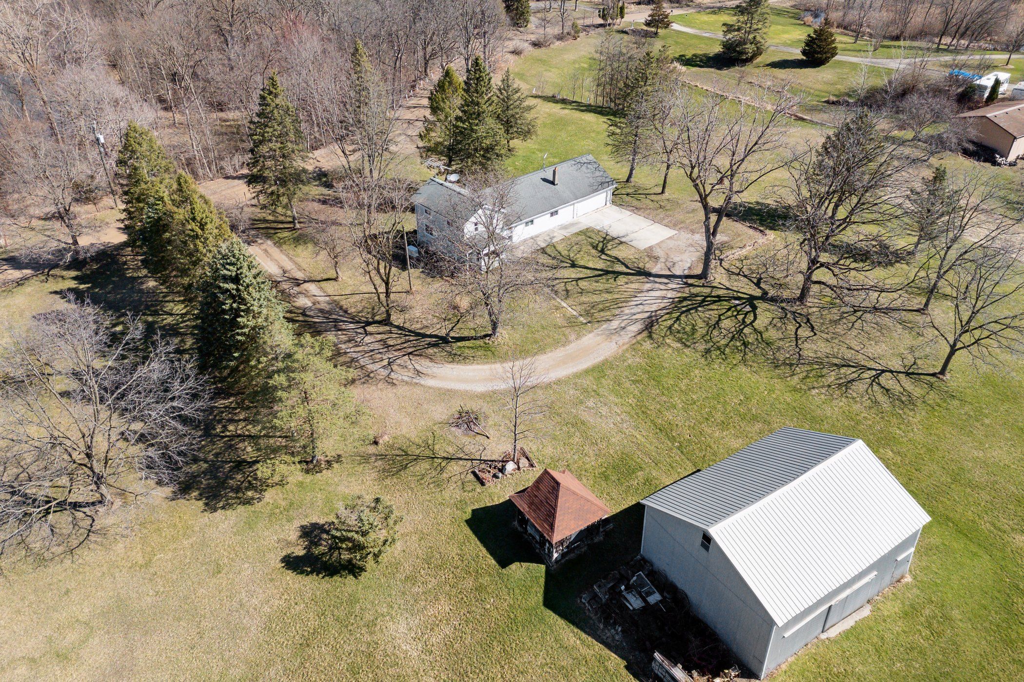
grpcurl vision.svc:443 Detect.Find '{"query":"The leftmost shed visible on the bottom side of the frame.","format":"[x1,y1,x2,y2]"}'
[509,466,617,564]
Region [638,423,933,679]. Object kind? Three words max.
barn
